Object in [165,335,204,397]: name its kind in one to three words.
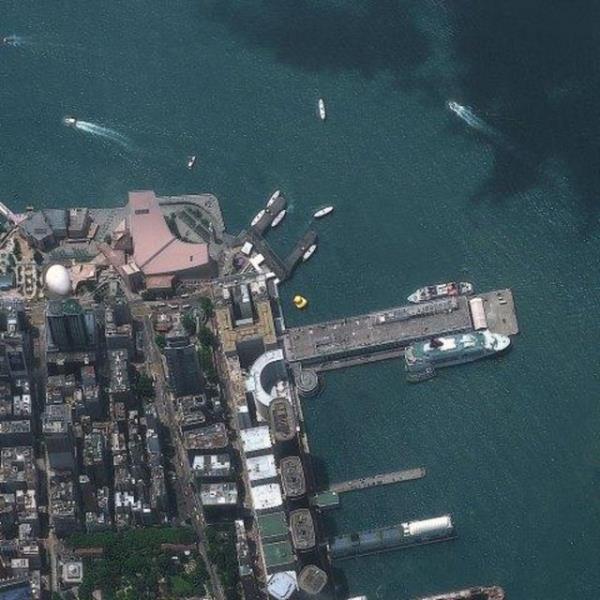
building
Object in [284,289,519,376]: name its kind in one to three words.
pier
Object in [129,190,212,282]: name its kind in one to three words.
building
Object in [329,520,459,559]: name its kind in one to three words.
pier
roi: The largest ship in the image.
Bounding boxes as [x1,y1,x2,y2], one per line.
[405,332,511,369]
